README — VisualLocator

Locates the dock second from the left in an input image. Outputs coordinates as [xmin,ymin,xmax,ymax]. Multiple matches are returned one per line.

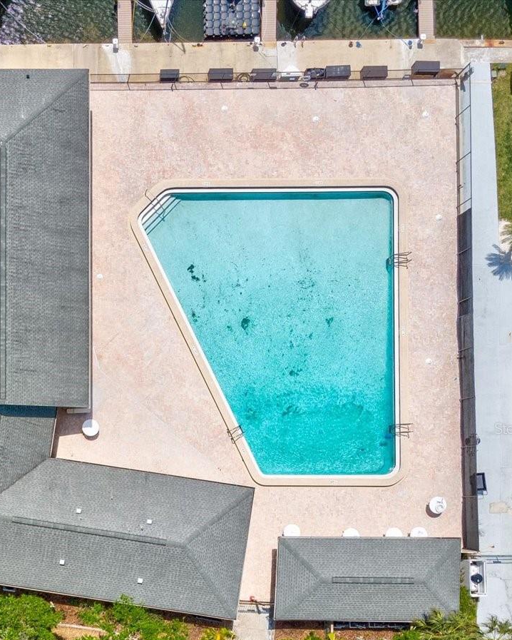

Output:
[203,0,258,38]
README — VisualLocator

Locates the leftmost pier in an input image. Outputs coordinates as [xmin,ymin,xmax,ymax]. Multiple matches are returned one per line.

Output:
[112,0,137,42]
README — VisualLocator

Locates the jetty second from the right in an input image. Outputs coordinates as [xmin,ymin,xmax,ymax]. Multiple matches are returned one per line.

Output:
[254,0,282,41]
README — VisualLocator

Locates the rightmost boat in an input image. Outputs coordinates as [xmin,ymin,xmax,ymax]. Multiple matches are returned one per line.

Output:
[363,0,397,25]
